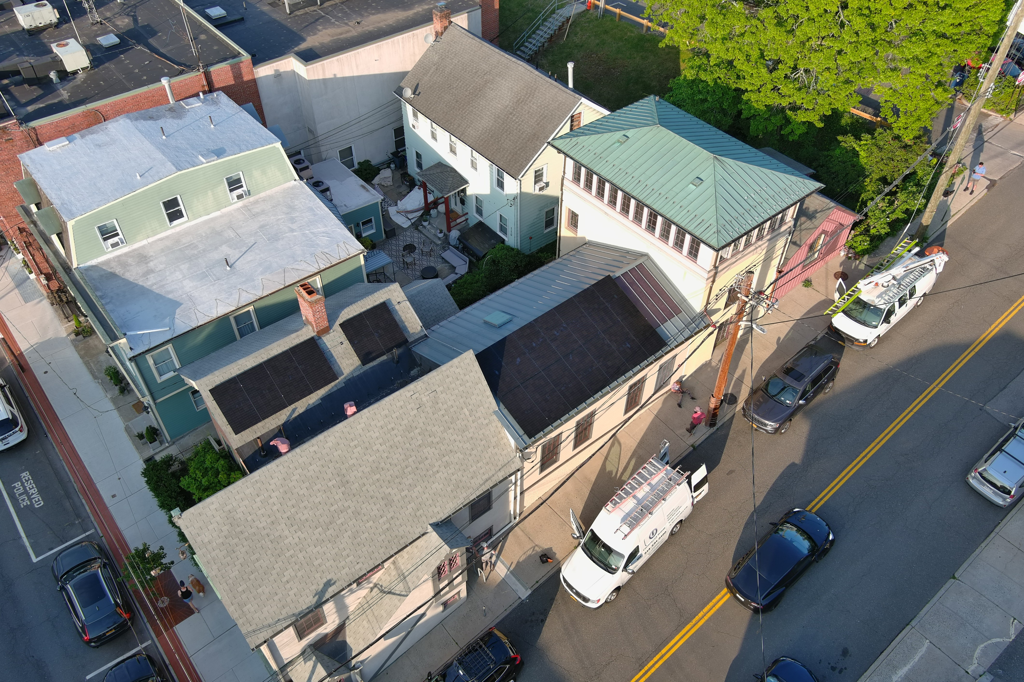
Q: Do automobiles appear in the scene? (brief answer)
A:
Yes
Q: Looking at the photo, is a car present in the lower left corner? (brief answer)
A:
Yes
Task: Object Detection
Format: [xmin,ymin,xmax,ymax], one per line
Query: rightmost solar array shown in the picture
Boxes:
[474,276,670,438]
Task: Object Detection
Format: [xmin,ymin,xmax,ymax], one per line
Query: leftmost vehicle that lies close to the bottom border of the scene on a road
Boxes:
[44,540,135,659]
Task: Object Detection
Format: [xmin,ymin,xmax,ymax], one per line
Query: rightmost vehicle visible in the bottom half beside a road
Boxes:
[968,413,1024,507]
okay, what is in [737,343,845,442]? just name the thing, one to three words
car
